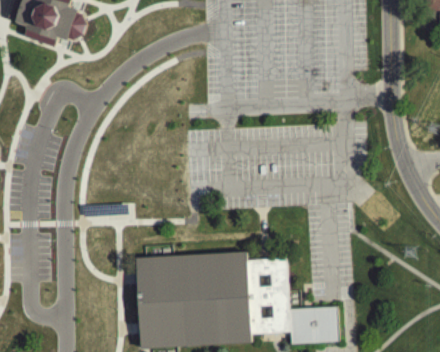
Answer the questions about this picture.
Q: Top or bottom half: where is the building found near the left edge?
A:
top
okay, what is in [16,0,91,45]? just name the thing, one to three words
building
